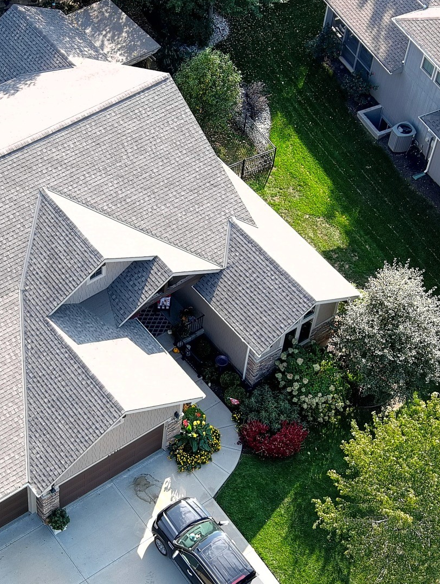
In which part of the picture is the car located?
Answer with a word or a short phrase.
bottom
